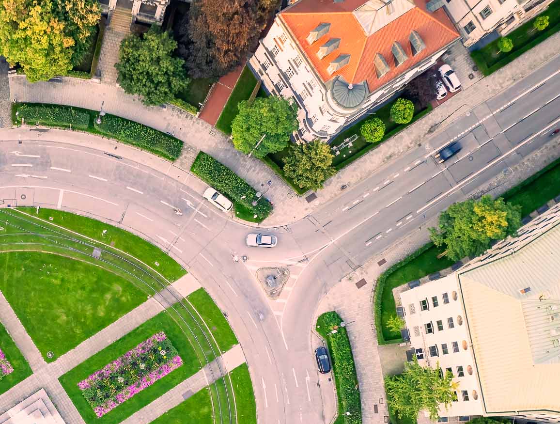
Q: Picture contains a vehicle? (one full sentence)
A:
Yes, there's a vehicle down there.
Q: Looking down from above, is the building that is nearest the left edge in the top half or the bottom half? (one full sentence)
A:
You can find the building that is nearest the left edge in the top half.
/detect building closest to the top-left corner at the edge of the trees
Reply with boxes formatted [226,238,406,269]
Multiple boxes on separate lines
[89,0,170,38]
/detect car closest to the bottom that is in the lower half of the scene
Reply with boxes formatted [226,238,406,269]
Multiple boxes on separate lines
[315,347,329,374]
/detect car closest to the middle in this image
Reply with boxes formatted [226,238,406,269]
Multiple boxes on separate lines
[244,233,278,248]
